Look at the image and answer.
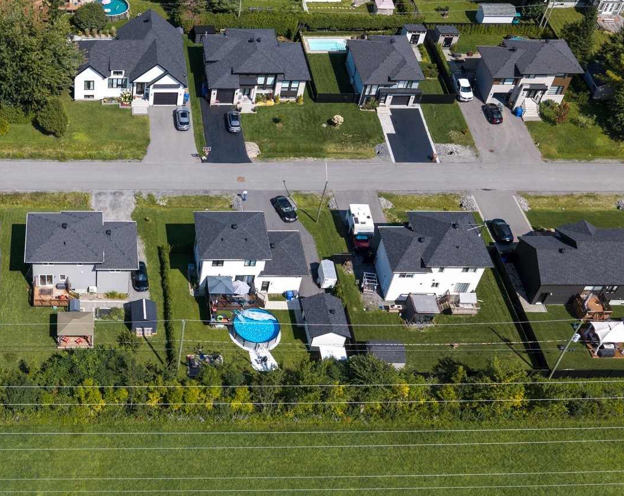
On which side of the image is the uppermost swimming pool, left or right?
left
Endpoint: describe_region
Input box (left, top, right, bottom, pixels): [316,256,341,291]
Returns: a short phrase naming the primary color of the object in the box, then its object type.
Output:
white trailer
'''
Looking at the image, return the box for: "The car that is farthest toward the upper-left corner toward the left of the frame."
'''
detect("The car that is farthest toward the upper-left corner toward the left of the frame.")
[175,110,191,129]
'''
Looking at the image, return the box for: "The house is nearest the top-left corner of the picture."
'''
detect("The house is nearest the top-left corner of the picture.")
[70,10,185,110]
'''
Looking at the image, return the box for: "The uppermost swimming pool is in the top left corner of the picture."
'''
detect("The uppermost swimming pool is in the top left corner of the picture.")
[94,0,130,24]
